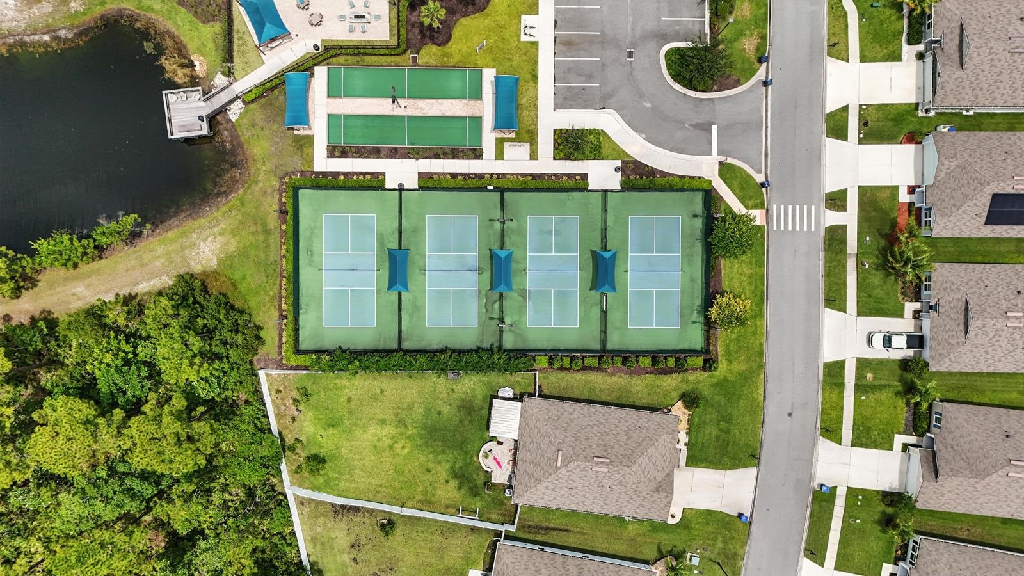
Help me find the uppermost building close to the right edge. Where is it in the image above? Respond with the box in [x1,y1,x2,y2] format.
[921,0,1024,113]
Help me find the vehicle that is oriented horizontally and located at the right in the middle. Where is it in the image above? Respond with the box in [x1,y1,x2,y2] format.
[870,330,925,352]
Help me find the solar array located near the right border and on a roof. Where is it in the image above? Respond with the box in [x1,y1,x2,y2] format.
[985,193,1024,225]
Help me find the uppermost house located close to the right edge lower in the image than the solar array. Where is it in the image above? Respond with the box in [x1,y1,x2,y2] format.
[913,262,1024,373]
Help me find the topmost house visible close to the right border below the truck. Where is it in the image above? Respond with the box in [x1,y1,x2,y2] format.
[906,402,1024,516]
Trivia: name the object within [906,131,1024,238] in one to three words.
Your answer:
house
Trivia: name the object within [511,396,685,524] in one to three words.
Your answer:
house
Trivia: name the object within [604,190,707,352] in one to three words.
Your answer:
sports court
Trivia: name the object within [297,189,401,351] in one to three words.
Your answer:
sports court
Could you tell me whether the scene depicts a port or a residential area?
residential area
